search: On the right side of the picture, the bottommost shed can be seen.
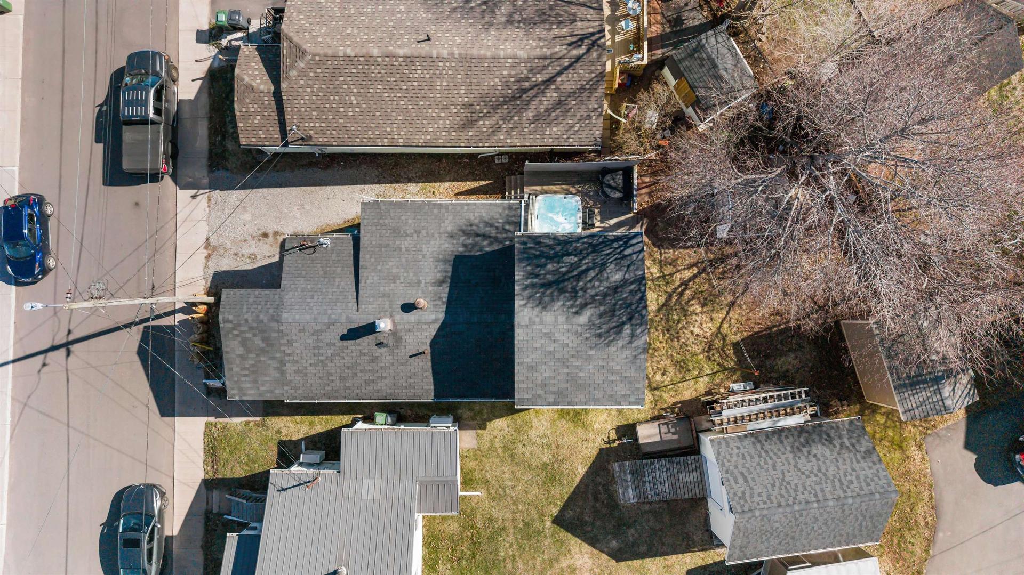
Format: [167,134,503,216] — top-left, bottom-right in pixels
[701,414,900,566]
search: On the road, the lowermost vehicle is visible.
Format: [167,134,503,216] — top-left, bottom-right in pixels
[117,482,174,575]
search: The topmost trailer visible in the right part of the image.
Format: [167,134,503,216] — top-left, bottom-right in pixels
[609,412,704,454]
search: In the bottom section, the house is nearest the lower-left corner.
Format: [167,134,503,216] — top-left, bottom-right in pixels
[216,421,481,575]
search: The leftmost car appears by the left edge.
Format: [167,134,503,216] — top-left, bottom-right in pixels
[0,191,60,279]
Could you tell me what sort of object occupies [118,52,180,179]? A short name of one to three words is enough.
truck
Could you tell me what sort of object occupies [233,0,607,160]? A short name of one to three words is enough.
house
